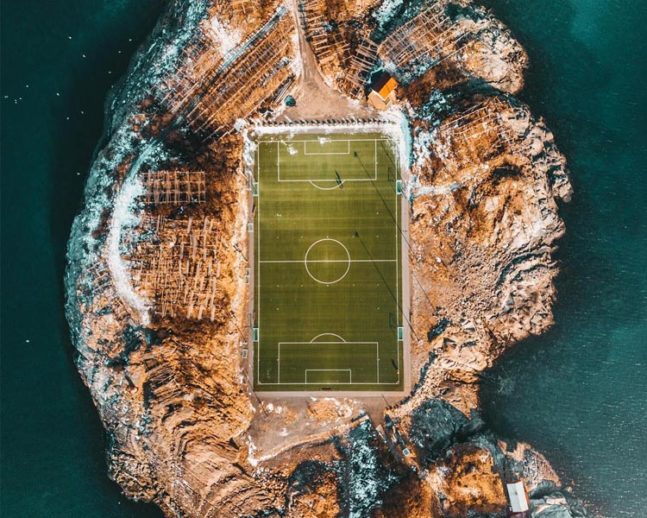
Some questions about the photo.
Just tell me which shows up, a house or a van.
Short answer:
house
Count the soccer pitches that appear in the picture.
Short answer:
one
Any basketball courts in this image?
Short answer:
No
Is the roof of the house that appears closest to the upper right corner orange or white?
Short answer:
orange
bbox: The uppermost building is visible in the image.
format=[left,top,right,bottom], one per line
[365,75,397,111]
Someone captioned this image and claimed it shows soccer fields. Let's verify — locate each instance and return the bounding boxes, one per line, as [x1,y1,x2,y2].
[253,133,404,391]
